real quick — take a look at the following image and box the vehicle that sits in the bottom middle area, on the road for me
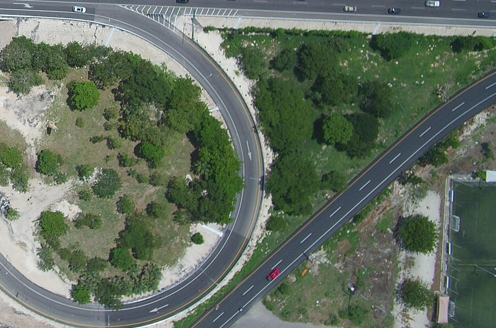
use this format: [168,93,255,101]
[266,267,280,281]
